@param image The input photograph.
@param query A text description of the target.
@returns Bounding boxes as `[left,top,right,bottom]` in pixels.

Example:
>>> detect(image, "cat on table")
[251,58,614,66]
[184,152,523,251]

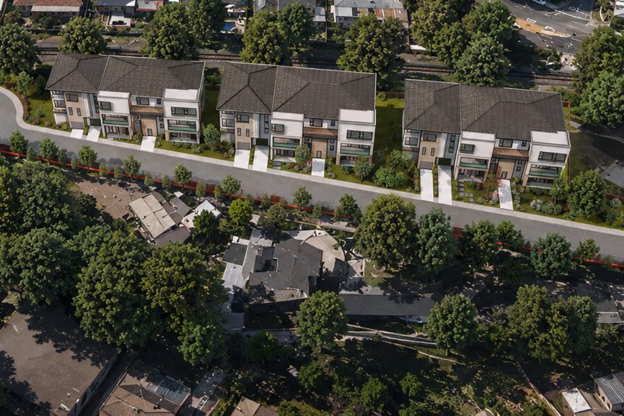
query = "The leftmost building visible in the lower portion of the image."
[0,308,120,416]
